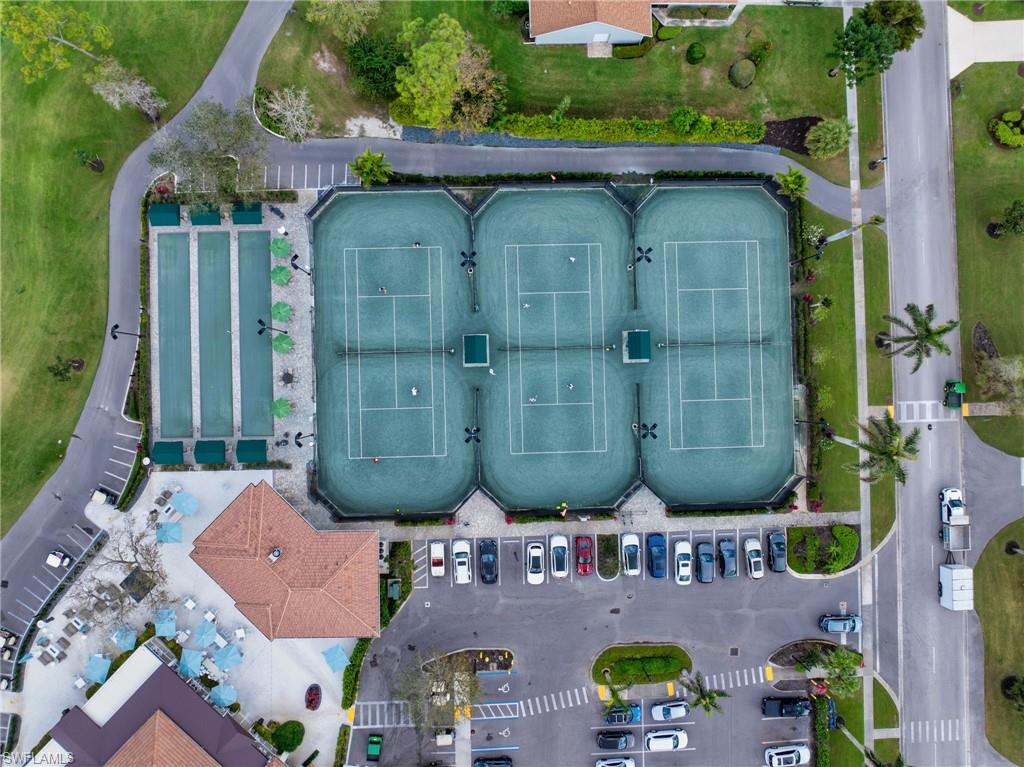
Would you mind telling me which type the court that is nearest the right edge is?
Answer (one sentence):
The court that is nearest the right edge appears to be a tennis court.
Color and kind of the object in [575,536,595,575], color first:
red car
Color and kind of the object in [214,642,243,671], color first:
blue umbrella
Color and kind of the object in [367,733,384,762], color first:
green vehicle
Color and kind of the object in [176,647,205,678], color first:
blue umbrella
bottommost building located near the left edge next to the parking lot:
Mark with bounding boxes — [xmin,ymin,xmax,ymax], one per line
[23,643,285,767]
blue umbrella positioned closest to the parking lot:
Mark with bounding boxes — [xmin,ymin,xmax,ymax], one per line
[320,641,352,673]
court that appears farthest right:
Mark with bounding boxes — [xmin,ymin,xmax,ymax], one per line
[633,185,796,508]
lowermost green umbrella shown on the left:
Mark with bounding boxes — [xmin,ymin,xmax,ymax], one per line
[271,397,293,419]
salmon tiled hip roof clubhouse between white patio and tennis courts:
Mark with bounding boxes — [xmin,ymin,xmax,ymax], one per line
[188,479,381,642]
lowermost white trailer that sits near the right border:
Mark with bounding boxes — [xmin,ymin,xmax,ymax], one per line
[938,552,974,613]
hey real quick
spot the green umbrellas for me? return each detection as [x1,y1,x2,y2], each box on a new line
[271,265,293,286]
[271,397,293,419]
[271,236,293,258]
[271,300,293,322]
[271,333,293,354]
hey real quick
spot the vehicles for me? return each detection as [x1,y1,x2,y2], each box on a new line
[524,542,545,584]
[673,540,693,584]
[646,532,668,578]
[0,633,20,651]
[716,538,737,578]
[765,531,787,572]
[621,532,642,576]
[595,752,636,767]
[478,538,498,582]
[548,534,569,577]
[602,701,642,724]
[741,537,763,579]
[367,733,384,762]
[937,488,970,552]
[817,612,861,634]
[42,551,72,568]
[433,729,457,748]
[649,696,689,721]
[450,538,471,582]
[694,542,716,583]
[430,541,445,578]
[643,726,687,751]
[765,742,809,766]
[596,727,634,750]
[474,752,514,767]
[941,382,964,408]
[761,695,811,720]
[575,536,595,575]
[0,647,13,662]
[0,676,11,691]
